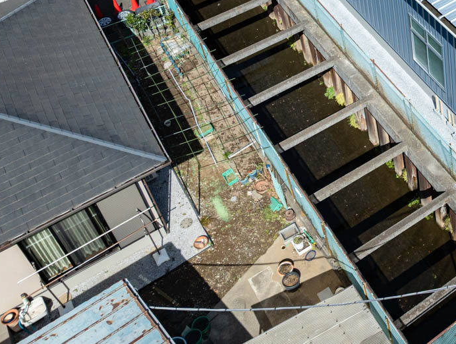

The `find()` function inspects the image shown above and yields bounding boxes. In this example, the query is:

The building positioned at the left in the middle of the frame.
[0,0,195,336]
